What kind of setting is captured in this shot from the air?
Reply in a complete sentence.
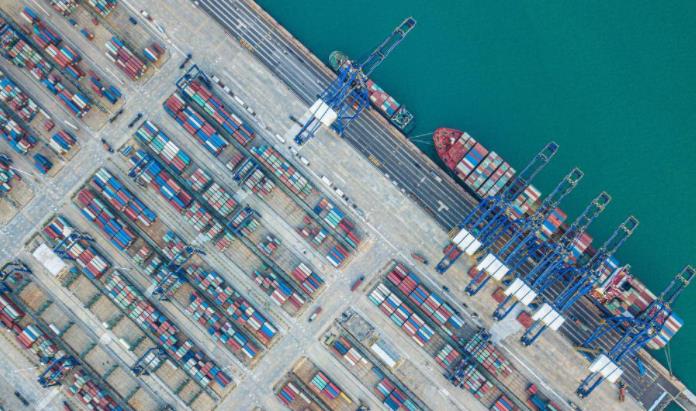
This image shows a port.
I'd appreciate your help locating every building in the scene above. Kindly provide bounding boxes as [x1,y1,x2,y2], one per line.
[368,335,404,370]
[29,244,65,276]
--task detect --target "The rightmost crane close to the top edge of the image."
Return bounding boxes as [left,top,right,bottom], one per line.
[292,10,419,147]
